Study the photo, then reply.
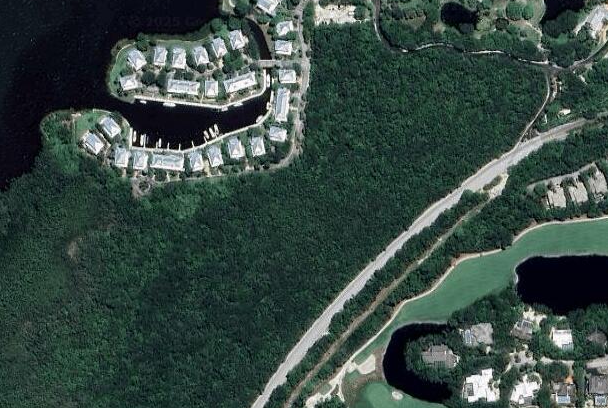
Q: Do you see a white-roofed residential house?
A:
Yes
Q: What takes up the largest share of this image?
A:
trees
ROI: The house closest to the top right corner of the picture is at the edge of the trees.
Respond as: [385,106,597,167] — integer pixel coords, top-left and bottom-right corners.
[586,3,608,35]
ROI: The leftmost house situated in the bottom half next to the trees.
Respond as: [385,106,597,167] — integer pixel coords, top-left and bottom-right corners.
[422,345,459,365]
